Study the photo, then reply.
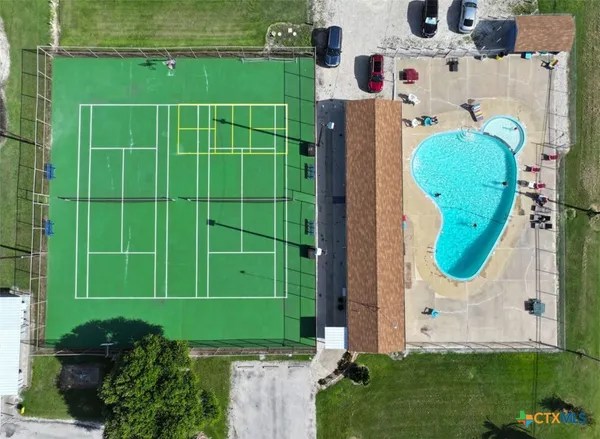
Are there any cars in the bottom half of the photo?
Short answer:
No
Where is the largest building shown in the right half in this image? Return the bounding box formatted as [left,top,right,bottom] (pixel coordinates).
[346,98,405,354]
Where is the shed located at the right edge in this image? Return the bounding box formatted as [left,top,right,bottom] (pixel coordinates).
[506,14,576,55]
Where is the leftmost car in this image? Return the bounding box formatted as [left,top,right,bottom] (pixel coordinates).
[325,26,343,67]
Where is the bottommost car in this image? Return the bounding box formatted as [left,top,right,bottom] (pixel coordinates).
[367,56,386,93]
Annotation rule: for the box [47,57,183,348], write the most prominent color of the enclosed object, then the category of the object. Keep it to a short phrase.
green tennis court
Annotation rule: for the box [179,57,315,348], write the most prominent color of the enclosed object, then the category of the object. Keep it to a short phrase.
green tennis court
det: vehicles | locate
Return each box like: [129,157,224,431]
[325,26,343,67]
[419,0,439,38]
[367,56,386,93]
[457,0,477,34]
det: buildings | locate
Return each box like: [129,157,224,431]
[506,14,576,55]
[0,297,35,397]
[346,98,405,354]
